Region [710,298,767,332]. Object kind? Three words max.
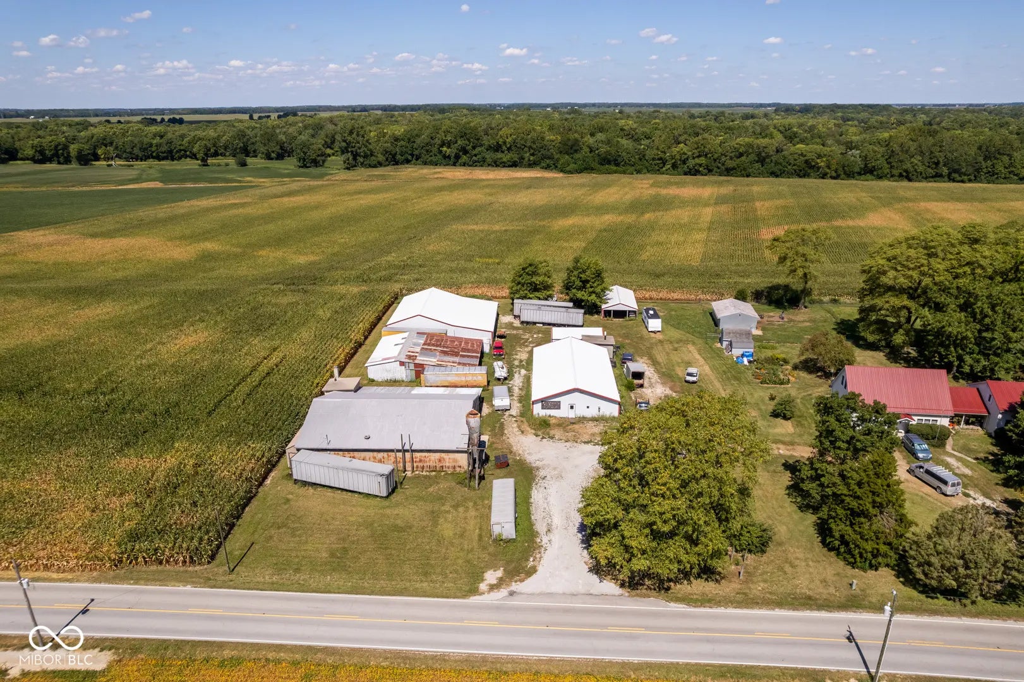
building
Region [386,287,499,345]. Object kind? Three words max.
barn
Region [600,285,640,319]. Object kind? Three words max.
shed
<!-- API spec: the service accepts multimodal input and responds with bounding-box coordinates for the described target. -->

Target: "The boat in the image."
[491,356,507,379]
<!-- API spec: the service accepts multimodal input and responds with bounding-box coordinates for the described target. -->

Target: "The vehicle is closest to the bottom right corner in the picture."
[906,463,965,497]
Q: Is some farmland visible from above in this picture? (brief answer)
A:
Yes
